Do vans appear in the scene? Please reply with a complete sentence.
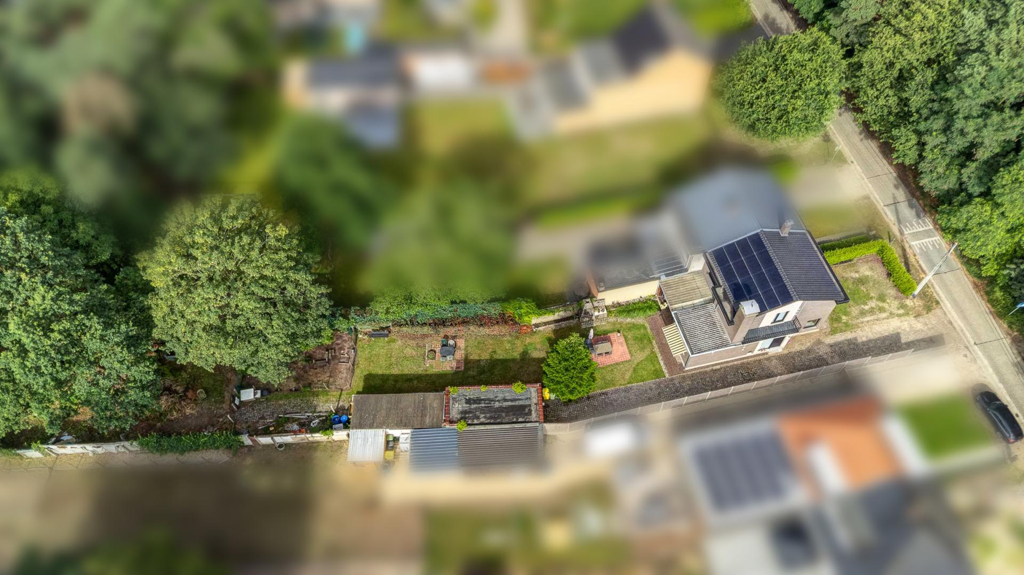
Yes, I can see a van in this picture.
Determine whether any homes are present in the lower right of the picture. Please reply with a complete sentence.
Yes, looking in the lower right of the picture, one can make out a home.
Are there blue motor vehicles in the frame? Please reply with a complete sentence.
No, no blue motor vehicle can be seen from above.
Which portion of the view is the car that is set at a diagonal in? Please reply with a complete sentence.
Look in the bottom right portion of the view to spot the car that is set at a diagonal.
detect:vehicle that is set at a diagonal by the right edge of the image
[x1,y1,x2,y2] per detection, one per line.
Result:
[977,397,1024,447]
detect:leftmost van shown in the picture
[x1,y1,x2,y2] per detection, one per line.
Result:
[584,427,645,458]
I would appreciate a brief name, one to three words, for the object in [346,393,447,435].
shed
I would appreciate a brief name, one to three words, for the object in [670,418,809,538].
house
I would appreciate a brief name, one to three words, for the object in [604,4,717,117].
house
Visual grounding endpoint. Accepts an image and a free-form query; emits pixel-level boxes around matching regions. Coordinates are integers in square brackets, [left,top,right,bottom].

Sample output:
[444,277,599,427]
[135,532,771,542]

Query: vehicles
[977,397,1024,447]
[584,427,645,458]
